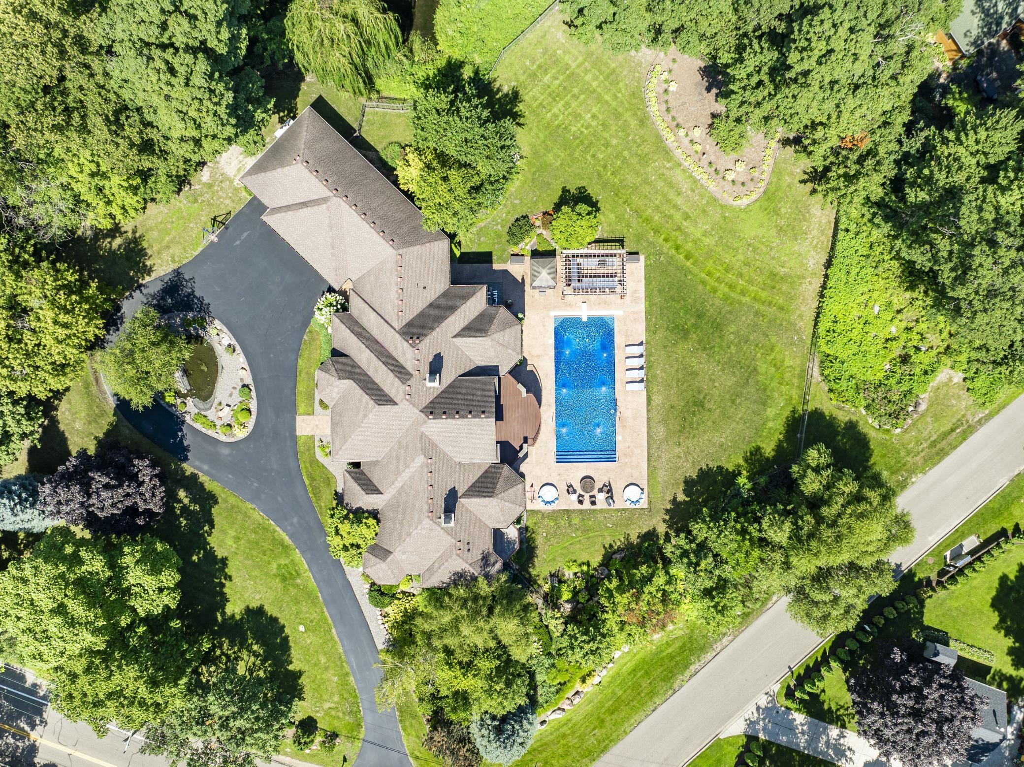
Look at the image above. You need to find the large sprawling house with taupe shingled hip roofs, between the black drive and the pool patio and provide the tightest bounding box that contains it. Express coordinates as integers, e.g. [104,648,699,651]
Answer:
[238,105,527,588]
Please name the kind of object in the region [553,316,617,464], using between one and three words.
swimming pool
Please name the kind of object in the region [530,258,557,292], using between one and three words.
gazebo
